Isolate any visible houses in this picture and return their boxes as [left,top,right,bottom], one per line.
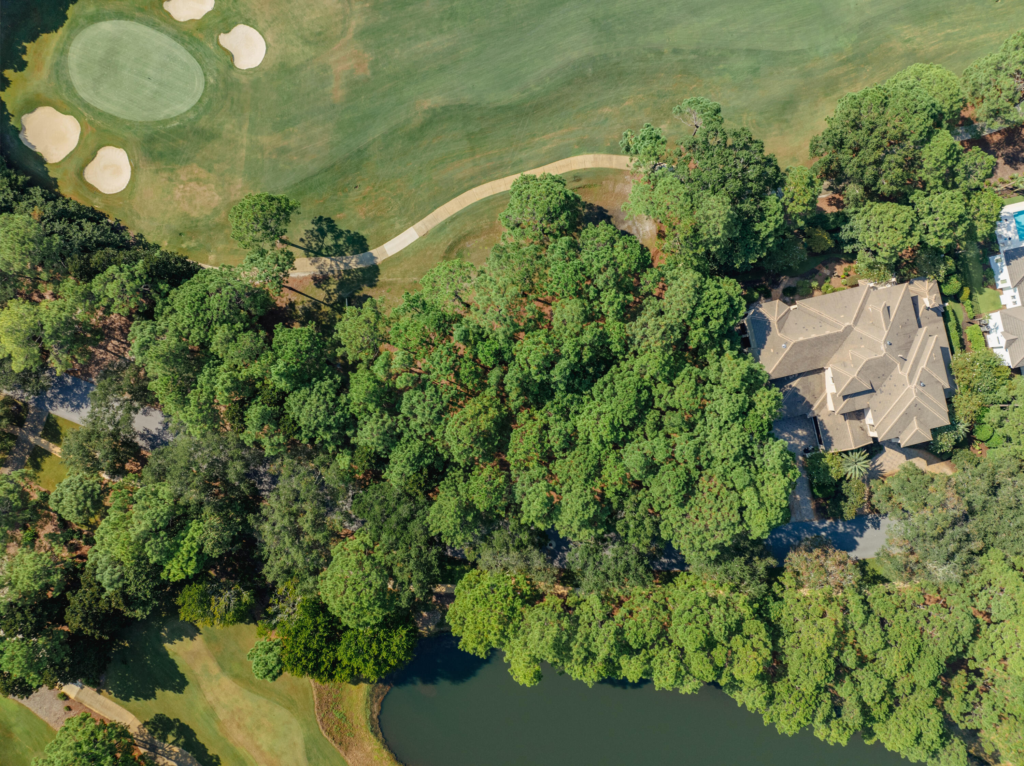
[981,246,1024,368]
[737,277,958,454]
